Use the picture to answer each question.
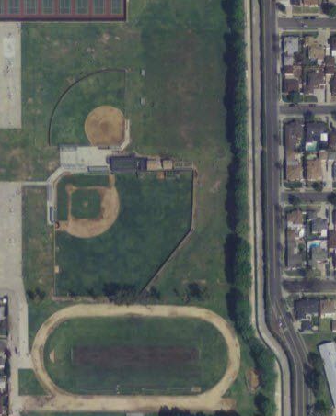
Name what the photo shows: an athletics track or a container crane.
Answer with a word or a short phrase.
athletics track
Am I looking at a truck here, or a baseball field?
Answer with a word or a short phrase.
baseball field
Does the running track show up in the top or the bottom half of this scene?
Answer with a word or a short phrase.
bottom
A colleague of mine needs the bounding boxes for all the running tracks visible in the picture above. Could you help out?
[21,304,239,412]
